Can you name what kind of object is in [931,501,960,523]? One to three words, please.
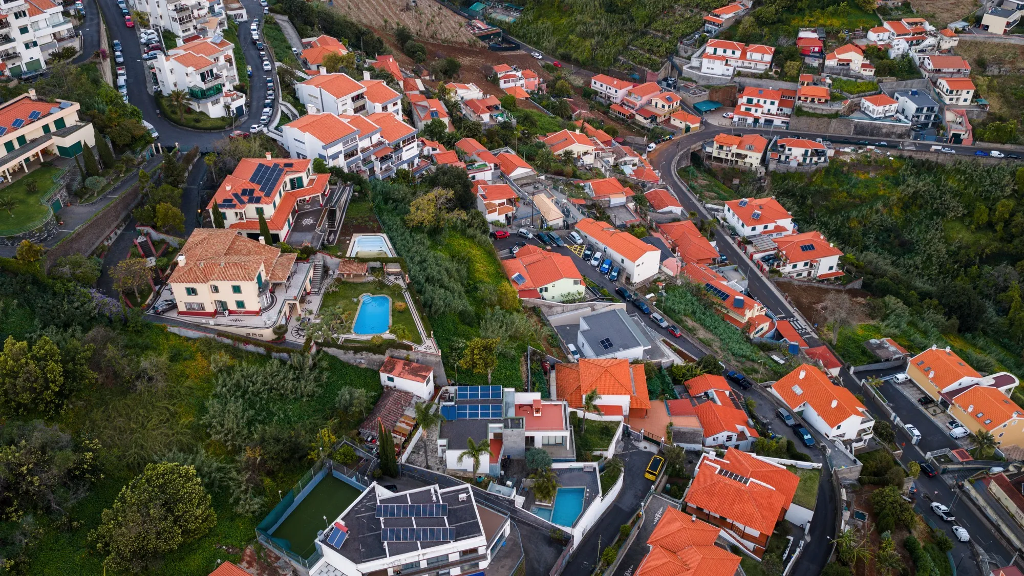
truck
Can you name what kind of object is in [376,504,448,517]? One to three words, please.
solar panel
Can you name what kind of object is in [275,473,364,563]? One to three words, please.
sports court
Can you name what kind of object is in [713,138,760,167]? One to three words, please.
house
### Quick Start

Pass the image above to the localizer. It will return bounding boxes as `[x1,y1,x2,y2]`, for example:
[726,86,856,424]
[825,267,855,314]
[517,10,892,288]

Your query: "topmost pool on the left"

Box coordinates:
[351,234,392,257]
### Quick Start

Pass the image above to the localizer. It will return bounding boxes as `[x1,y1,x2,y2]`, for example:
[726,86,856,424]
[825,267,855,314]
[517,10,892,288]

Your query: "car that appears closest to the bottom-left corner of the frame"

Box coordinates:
[149,299,177,316]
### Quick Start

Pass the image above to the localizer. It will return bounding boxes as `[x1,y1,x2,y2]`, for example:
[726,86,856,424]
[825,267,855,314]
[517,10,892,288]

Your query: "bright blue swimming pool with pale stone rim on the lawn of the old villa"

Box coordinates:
[350,295,394,336]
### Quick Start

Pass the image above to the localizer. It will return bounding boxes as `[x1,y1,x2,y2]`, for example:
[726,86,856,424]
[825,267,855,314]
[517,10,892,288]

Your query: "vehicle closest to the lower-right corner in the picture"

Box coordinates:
[952,524,975,543]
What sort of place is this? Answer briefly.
residential area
